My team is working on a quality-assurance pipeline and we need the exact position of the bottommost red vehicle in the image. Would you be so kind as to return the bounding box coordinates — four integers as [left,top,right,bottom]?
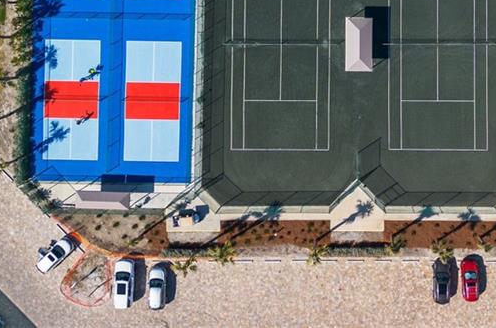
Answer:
[459,256,481,300]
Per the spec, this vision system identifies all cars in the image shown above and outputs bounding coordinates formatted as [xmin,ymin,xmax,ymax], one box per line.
[113,257,137,308]
[432,257,453,303]
[147,262,168,309]
[459,256,481,300]
[35,234,77,274]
